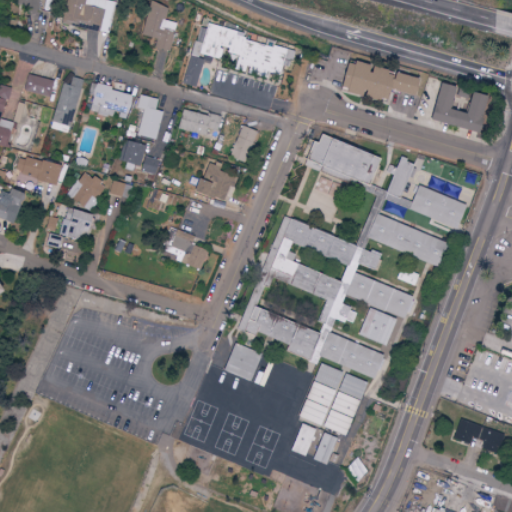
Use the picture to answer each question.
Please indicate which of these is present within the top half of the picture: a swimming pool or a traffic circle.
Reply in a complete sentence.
Looking within the top half of the picture, you will find a swimming pool.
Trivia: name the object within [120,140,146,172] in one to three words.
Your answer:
house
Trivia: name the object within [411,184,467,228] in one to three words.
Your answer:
building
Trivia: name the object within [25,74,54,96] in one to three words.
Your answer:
house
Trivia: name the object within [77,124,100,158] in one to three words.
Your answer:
swimming pool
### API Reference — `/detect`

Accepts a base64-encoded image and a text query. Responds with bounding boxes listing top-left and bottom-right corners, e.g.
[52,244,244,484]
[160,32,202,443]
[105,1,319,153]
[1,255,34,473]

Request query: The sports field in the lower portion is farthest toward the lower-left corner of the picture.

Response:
[0,402,158,512]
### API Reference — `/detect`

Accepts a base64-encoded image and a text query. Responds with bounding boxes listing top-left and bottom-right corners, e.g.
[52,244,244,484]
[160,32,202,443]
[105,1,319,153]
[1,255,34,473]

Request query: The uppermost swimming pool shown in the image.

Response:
[198,60,217,90]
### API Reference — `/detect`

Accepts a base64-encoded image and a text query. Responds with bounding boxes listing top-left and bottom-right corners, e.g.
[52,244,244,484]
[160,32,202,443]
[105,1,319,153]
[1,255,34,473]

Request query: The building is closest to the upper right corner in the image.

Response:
[433,82,489,132]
